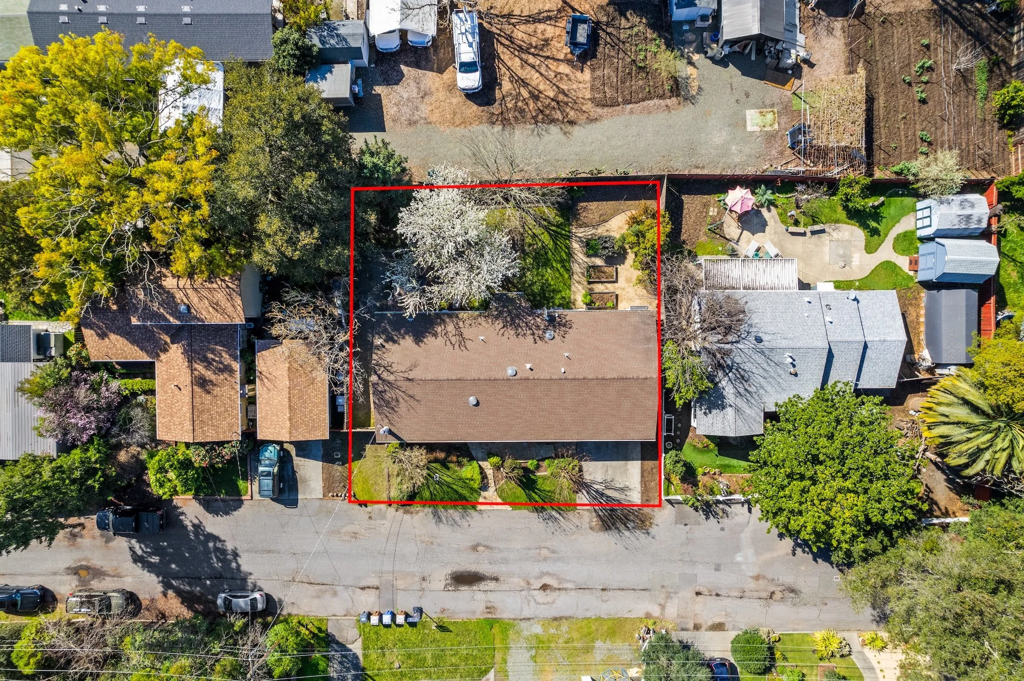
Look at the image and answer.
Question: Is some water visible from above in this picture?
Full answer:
No, the scene doesn't show any water.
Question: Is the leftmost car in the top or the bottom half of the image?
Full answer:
The leftmost car sits in the bottom half of the picture.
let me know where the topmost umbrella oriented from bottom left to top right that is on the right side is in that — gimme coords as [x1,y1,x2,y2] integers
[703,184,755,232]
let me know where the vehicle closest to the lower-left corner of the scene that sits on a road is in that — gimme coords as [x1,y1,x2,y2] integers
[0,585,42,613]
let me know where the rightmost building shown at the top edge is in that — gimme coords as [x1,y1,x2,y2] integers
[717,0,805,53]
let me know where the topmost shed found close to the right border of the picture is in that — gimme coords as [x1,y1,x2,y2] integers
[916,196,991,241]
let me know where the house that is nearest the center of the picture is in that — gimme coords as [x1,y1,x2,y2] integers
[373,292,660,442]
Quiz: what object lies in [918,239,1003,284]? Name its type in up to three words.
shed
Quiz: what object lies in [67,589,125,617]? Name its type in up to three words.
car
